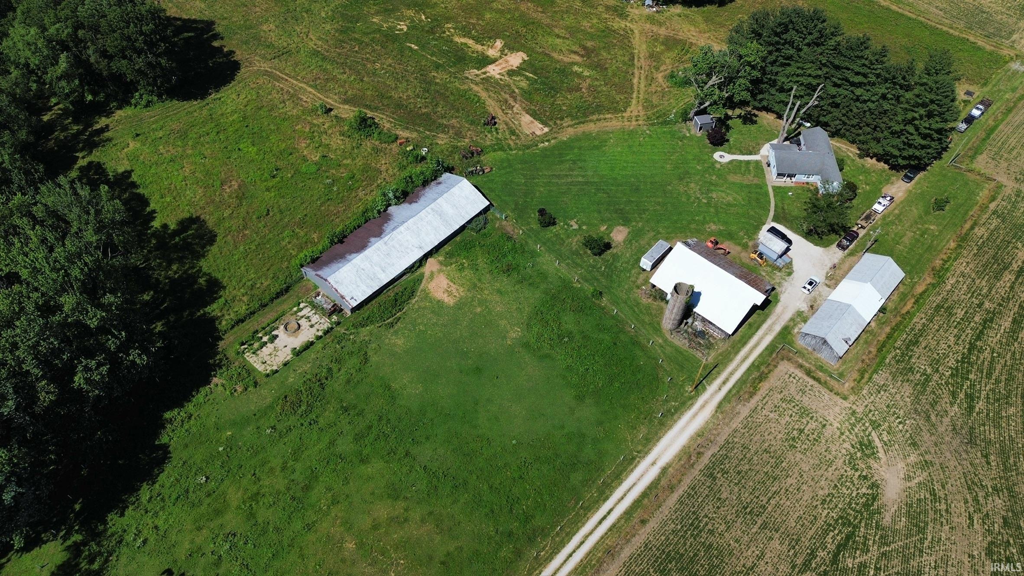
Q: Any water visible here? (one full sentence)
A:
No, the picture contains no water.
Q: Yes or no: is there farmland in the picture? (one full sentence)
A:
Yes, the picture does contain farmland.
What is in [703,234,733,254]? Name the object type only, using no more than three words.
work vehicle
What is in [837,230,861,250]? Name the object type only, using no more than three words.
vehicle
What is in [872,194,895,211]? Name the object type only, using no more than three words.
vehicle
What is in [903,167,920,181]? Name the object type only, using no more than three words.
car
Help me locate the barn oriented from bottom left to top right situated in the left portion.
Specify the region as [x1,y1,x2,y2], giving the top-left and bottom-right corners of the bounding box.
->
[304,173,491,314]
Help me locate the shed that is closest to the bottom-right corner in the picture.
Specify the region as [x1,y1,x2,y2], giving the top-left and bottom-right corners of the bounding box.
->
[799,253,905,363]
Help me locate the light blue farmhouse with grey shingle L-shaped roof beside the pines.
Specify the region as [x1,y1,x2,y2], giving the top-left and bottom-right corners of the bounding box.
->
[768,124,844,192]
